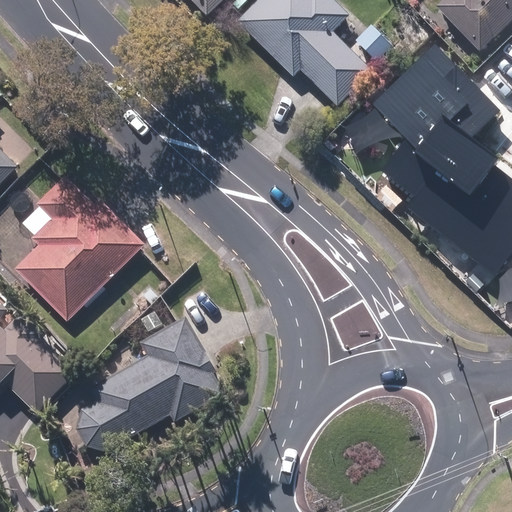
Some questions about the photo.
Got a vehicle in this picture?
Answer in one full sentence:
Yes, looking at the shot, I can spot a vehicle.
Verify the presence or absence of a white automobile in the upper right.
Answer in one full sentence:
Yes, there is a white automobile in the upper right.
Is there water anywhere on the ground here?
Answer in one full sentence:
No, there is no water in the image.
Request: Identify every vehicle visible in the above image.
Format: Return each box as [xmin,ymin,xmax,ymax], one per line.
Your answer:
[122,108,150,137]
[502,42,512,62]
[184,297,208,328]
[269,185,294,211]
[498,58,512,84]
[272,96,292,126]
[196,290,221,320]
[484,68,512,99]
[279,448,298,486]
[142,224,162,254]
[380,369,407,384]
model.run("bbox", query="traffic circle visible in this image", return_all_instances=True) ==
[293,384,438,512]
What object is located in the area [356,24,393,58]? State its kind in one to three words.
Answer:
shed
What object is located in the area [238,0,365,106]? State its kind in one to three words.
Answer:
house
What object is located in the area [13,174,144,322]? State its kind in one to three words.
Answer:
house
